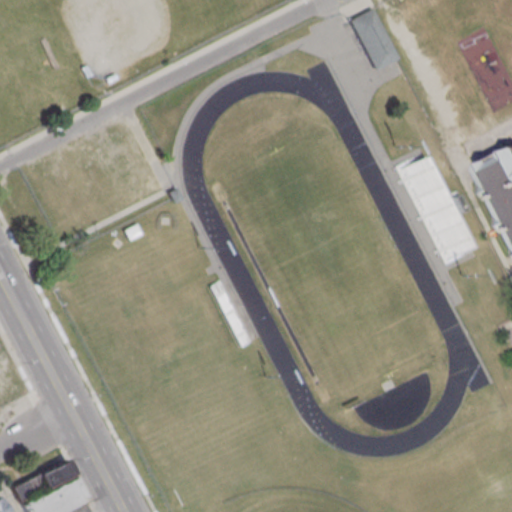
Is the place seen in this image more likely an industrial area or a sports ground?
sports ground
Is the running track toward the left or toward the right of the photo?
right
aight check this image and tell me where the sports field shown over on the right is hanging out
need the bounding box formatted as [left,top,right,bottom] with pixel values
[202,92,450,438]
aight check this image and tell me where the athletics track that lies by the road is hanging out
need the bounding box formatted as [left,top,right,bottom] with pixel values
[182,62,490,459]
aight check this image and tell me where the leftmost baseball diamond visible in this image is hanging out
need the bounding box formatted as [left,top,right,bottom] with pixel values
[61,0,170,80]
